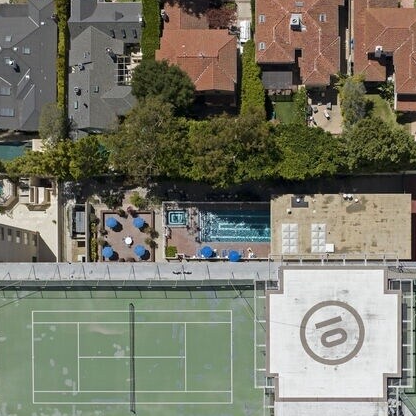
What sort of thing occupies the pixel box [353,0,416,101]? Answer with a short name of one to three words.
house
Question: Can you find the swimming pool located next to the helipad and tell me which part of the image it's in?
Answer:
center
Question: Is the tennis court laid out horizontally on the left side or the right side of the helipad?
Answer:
on the left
